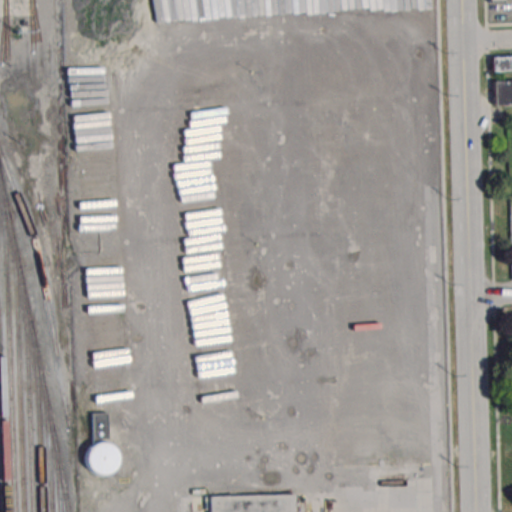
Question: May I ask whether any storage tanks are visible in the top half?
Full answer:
No, I see no storage tank in the top half.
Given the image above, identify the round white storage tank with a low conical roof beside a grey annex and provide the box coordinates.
[84,442,122,477]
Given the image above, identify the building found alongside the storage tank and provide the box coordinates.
[90,413,108,444]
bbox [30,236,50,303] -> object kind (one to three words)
rail car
